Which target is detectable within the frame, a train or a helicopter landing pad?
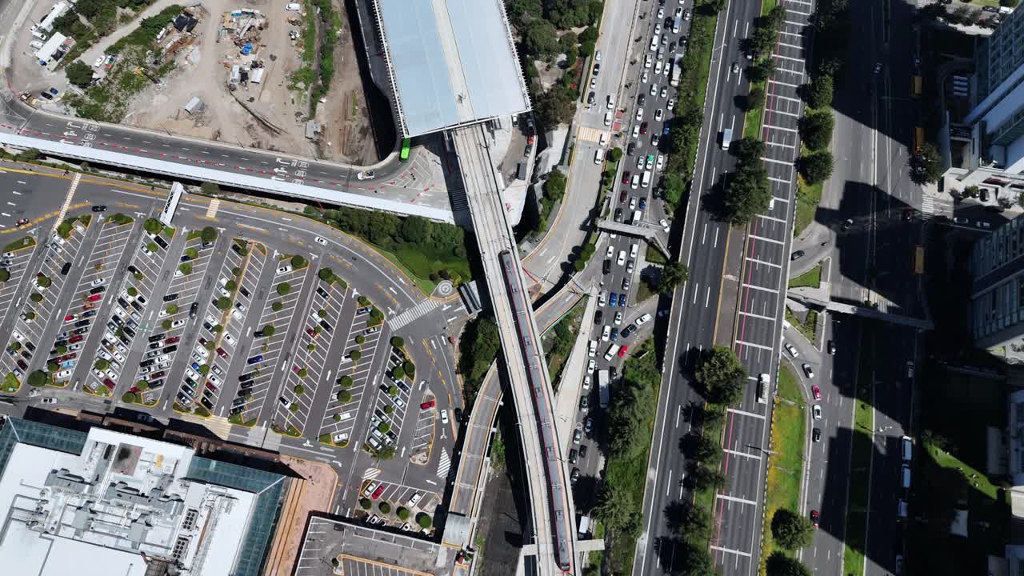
train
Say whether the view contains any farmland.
No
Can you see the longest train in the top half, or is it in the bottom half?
bottom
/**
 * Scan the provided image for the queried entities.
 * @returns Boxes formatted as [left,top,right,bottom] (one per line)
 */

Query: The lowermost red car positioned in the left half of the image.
[371,485,384,500]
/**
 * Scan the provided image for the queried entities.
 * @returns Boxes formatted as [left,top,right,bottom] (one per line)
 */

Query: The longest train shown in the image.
[502,254,569,563]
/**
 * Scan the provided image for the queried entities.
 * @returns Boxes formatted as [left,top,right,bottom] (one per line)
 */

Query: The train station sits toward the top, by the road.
[369,0,535,167]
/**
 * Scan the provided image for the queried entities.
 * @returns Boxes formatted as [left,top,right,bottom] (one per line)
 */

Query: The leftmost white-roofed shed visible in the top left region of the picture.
[35,32,70,66]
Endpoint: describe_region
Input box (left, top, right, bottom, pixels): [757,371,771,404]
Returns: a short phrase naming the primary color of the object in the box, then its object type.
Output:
white vehicle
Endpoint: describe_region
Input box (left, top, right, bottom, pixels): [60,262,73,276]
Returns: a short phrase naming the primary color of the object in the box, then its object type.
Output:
black vehicle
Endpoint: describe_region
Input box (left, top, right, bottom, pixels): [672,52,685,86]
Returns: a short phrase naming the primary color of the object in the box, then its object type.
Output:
white vehicle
